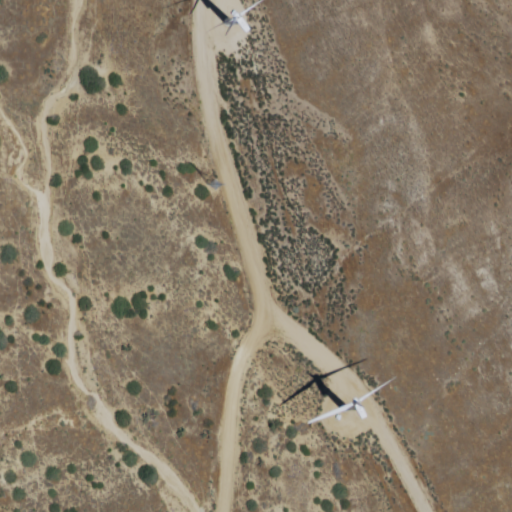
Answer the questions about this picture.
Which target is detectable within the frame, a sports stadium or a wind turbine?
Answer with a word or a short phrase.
wind turbine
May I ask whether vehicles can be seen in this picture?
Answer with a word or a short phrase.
No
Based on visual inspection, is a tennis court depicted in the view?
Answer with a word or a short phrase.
No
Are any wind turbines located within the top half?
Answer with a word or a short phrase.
Yes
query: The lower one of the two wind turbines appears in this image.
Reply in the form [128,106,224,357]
[311,379,392,422]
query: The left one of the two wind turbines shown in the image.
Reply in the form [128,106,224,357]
[212,0,259,32]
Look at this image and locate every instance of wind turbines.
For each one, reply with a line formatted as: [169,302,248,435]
[212,0,259,32]
[311,379,392,422]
